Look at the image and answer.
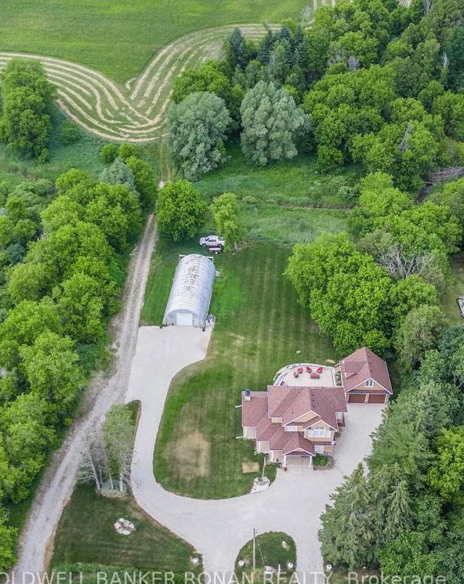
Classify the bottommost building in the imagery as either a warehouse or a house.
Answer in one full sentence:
The bottommost building is a house.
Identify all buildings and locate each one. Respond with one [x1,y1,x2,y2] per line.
[162,253,216,325]
[235,383,347,472]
